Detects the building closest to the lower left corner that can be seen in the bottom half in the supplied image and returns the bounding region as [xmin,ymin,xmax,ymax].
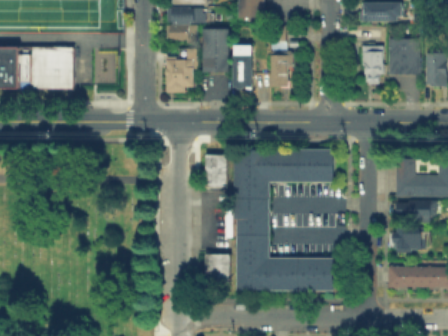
[204,254,230,285]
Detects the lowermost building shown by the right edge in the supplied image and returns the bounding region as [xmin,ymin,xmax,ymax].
[389,266,448,289]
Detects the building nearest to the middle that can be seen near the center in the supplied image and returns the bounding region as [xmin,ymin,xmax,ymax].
[205,154,227,190]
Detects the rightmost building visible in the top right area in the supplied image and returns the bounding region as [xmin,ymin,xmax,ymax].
[426,52,448,86]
